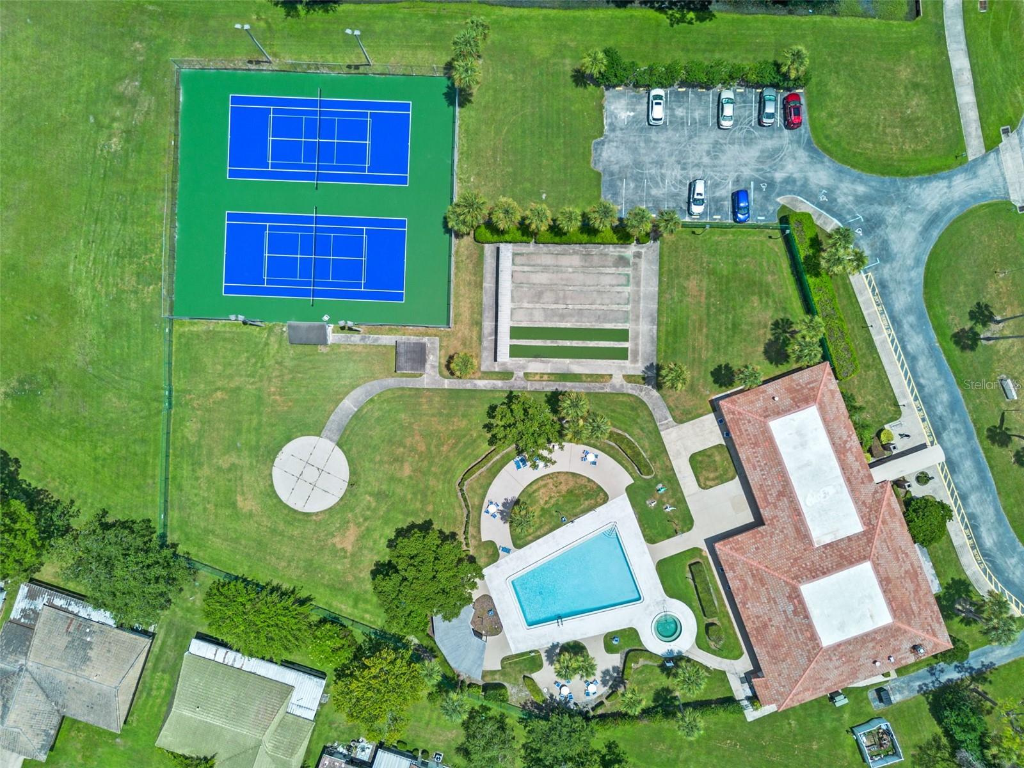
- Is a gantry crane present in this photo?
No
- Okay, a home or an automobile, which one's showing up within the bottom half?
home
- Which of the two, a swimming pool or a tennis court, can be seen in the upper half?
tennis court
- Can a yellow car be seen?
No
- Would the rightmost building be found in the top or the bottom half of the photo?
bottom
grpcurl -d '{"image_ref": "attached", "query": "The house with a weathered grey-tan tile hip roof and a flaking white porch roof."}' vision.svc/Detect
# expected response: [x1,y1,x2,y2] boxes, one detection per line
[0,579,161,763]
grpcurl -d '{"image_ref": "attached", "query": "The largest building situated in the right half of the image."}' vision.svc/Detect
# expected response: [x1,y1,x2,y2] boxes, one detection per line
[714,362,954,712]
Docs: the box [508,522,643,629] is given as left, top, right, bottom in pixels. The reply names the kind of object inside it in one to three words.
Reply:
swimming pool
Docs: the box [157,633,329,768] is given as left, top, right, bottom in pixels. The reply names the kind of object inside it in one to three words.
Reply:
house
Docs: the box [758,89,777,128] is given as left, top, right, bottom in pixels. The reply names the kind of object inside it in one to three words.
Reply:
car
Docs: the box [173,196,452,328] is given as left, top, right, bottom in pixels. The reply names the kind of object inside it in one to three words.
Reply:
tennis court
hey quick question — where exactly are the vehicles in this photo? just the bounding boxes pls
[717,91,736,130]
[732,188,751,222]
[783,93,803,131]
[758,89,777,128]
[688,179,706,216]
[648,90,666,126]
